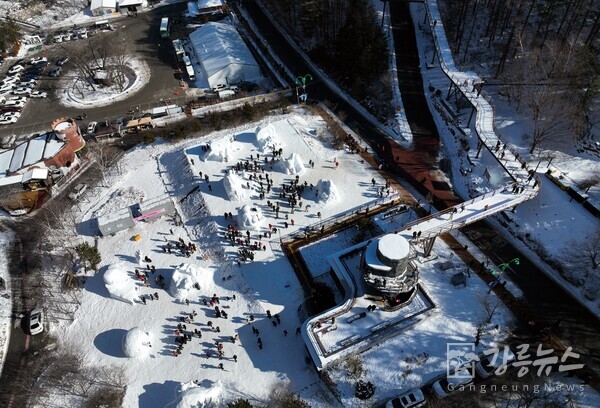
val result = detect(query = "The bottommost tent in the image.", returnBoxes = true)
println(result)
[190,25,261,83]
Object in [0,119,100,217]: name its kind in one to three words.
building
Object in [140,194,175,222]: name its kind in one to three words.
building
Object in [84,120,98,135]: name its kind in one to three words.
car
